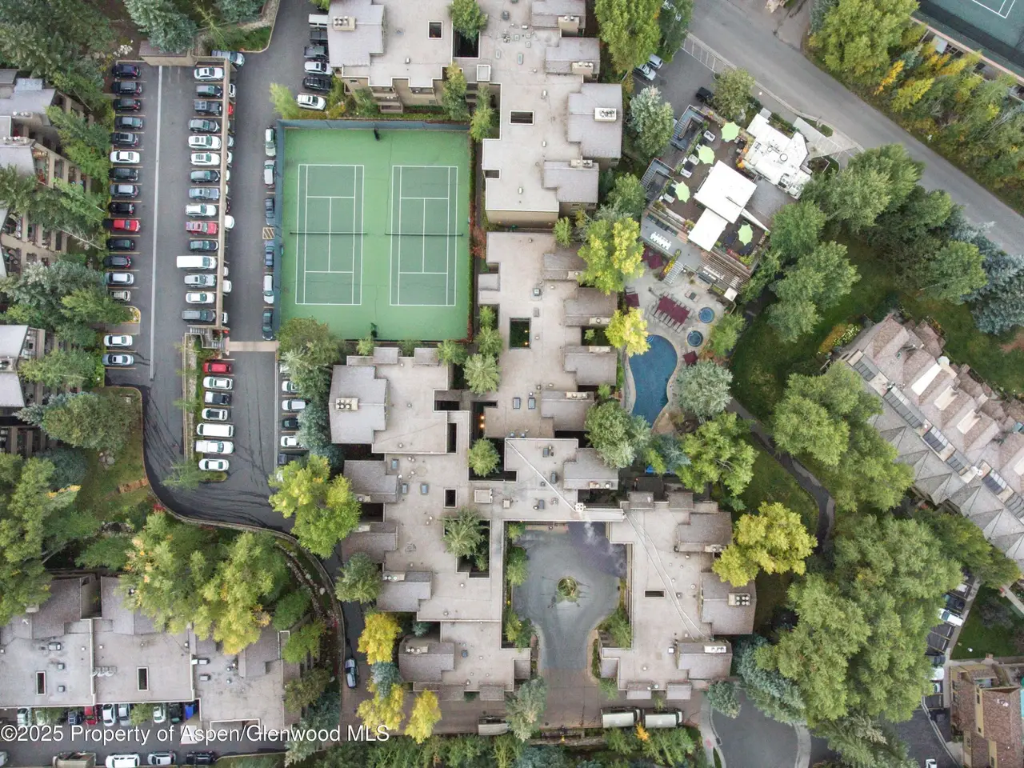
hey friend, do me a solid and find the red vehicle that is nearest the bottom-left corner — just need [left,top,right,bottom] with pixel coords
[84,705,100,728]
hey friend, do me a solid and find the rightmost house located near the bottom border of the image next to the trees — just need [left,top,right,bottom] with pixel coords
[945,655,1022,768]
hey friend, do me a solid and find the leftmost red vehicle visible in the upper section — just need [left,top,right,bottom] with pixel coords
[104,217,142,233]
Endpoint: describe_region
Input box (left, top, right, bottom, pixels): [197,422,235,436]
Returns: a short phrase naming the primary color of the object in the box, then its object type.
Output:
white vehicle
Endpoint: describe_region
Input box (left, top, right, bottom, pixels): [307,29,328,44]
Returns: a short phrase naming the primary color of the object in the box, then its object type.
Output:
gray car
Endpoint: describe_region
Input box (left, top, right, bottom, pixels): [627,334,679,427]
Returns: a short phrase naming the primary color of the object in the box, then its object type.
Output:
blue swimming pool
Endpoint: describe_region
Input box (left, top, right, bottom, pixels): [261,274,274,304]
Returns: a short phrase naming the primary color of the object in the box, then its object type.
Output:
white vehicle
